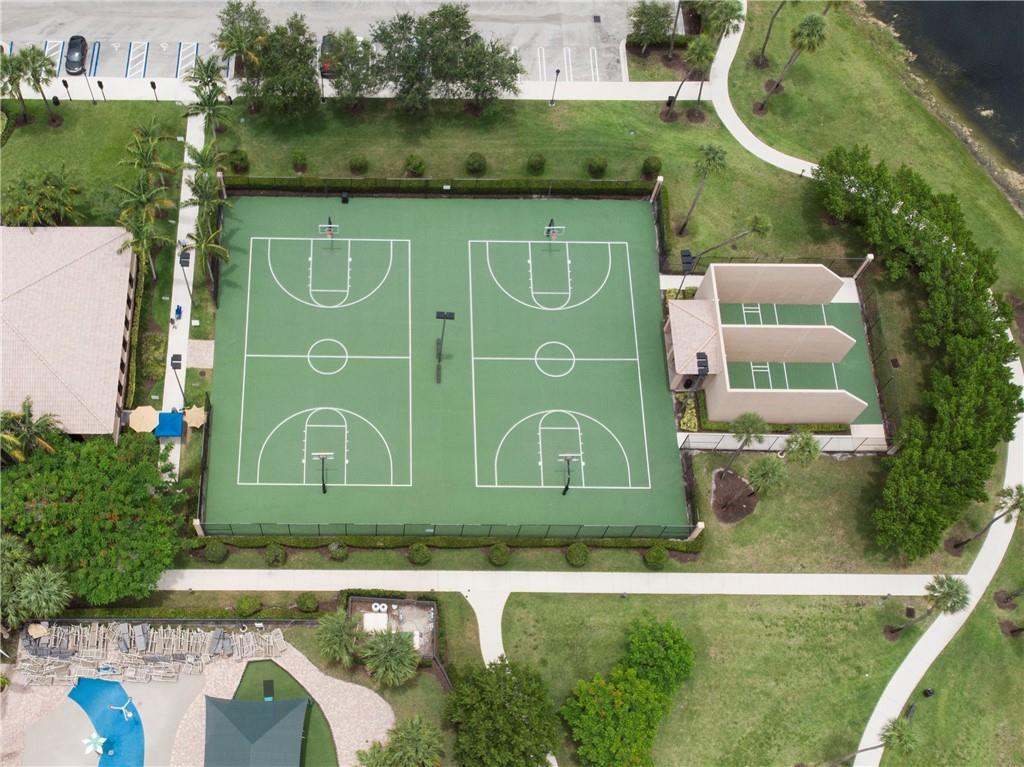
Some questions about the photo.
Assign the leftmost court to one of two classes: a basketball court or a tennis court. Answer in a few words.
basketball court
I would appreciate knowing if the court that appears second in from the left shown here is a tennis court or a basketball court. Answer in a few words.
basketball court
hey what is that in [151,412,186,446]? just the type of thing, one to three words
tent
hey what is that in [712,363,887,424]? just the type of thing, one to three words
sports court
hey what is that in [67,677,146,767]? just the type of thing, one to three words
swimming pool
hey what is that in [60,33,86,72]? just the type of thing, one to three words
car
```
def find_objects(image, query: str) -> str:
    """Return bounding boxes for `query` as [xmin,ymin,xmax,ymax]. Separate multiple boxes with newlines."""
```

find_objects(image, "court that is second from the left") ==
[431,197,690,535]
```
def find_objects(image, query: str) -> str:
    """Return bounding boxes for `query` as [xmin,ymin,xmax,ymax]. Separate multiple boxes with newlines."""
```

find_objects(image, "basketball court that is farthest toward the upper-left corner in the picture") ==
[203,195,435,534]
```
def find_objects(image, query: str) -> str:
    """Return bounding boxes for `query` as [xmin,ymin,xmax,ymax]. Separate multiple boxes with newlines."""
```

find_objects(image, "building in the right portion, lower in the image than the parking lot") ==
[662,299,715,390]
